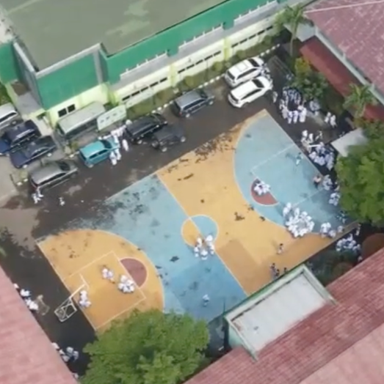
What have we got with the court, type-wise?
basketball court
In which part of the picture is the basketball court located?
center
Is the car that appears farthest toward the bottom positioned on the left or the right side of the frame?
left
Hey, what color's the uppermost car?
white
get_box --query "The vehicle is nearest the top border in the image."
[221,60,266,87]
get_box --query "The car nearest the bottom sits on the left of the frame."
[30,159,77,190]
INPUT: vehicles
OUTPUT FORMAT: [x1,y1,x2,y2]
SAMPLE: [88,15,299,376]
[0,103,21,128]
[172,91,215,118]
[10,136,57,169]
[228,78,273,108]
[48,99,112,147]
[0,125,39,154]
[120,115,167,144]
[78,140,116,166]
[221,60,266,87]
[30,159,77,190]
